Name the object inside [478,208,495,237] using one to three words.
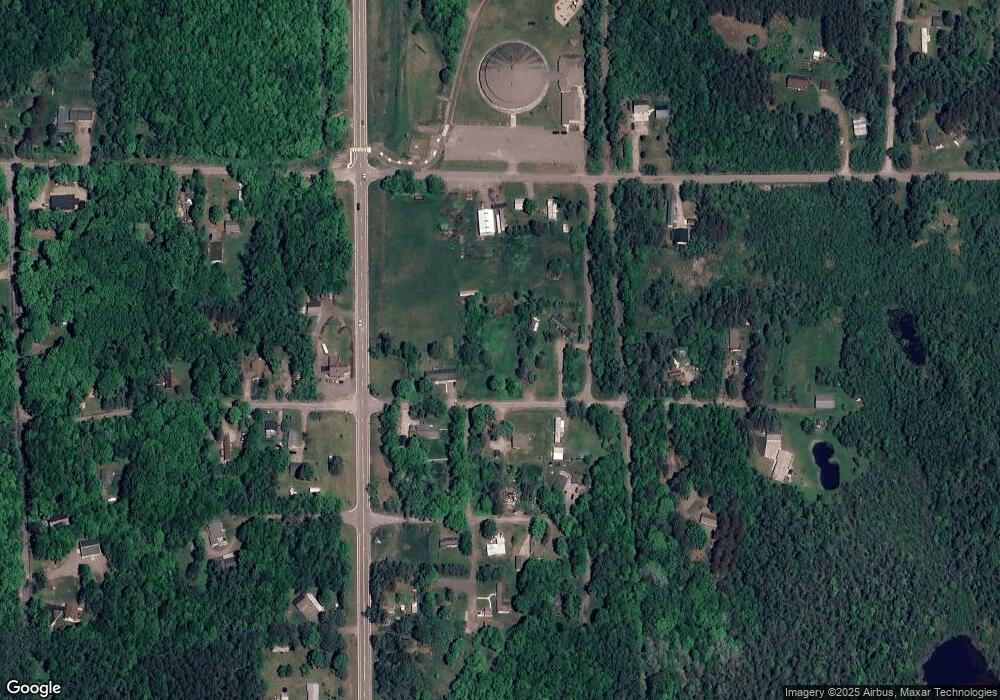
barn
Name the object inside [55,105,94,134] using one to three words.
house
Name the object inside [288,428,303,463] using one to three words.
house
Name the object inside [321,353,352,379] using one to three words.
building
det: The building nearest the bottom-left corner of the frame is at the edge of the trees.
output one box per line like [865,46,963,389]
[62,602,83,622]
